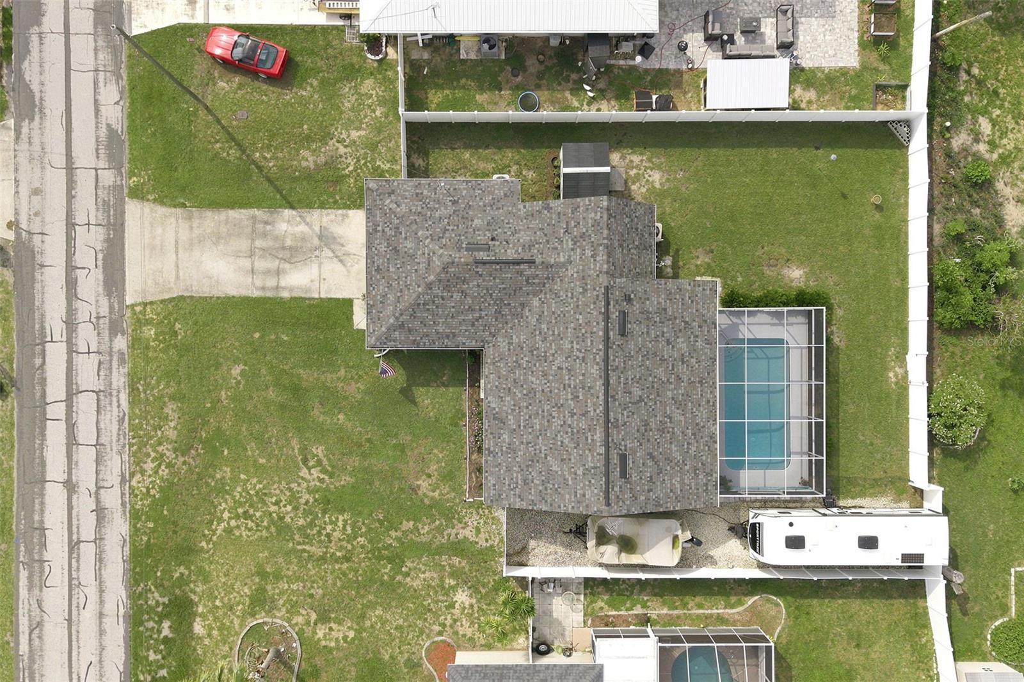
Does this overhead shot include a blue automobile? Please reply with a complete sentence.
No, there is no blue automobile in the image.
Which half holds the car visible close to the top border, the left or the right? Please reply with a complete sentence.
You can find the car visible close to the top border on the left side of the picture.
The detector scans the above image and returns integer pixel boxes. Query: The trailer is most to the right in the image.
[727,503,945,565]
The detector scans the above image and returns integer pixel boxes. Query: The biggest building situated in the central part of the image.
[363,177,721,515]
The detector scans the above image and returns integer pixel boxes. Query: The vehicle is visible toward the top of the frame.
[206,27,288,78]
